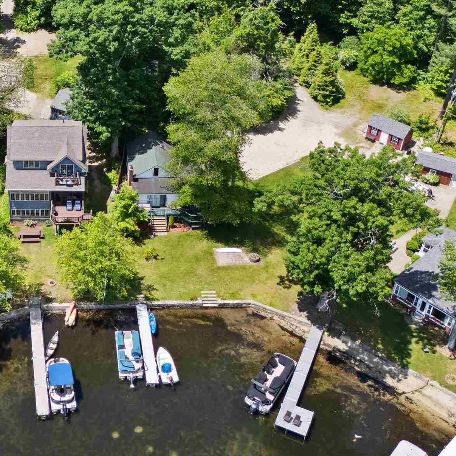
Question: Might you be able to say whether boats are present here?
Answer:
Yes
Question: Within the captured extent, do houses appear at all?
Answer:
Yes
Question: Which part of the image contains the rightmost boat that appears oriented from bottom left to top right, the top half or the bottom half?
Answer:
bottom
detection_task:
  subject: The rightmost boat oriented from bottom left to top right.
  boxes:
[243,352,297,419]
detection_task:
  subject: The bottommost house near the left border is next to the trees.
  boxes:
[6,115,93,236]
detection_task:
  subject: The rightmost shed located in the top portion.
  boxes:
[419,144,456,186]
